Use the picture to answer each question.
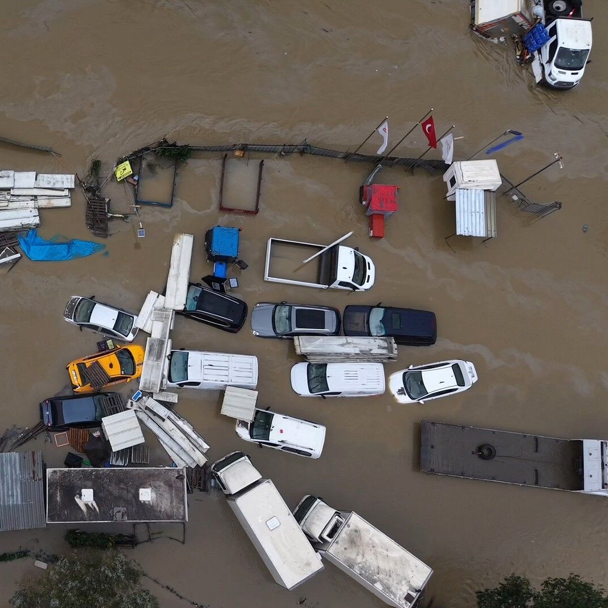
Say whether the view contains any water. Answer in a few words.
Yes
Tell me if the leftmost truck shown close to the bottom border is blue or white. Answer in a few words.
white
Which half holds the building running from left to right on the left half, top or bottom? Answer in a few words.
bottom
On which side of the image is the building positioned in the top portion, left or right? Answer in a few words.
right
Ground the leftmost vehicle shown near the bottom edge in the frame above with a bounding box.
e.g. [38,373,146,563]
[205,450,324,590]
